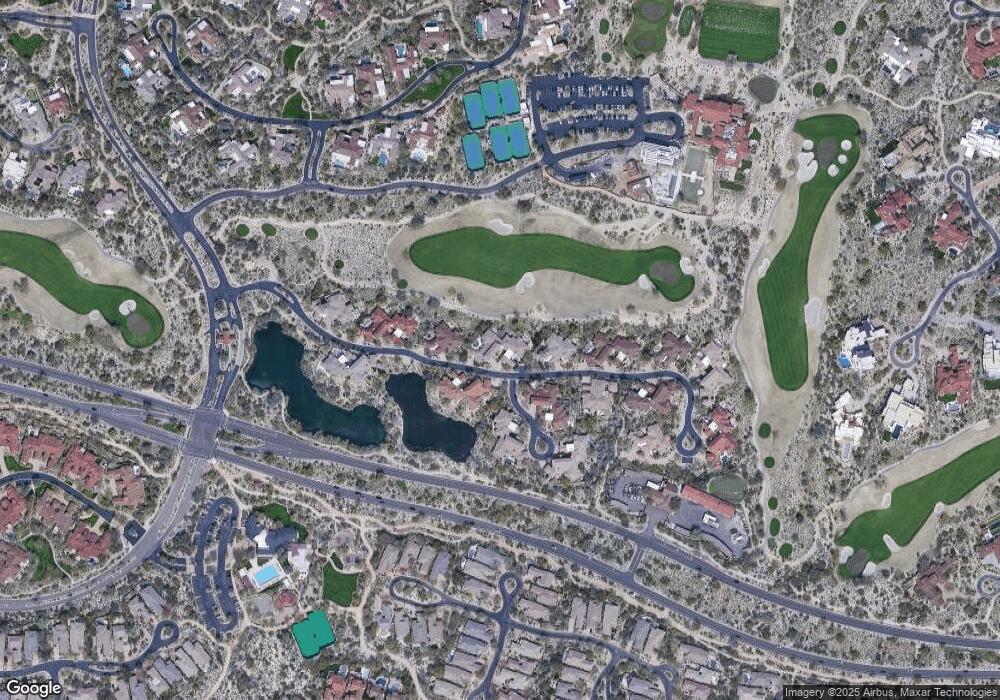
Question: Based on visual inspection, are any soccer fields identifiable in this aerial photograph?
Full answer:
No, there's no soccer field here.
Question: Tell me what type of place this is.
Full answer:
The picture captures a residential area.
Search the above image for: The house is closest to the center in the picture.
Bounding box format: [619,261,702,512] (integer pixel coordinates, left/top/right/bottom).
[476,327,532,371]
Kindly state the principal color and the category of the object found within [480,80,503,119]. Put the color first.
blue tennis court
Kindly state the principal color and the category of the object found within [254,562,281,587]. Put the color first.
blue swimming pool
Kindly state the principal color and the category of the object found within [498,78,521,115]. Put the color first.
blue tennis court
